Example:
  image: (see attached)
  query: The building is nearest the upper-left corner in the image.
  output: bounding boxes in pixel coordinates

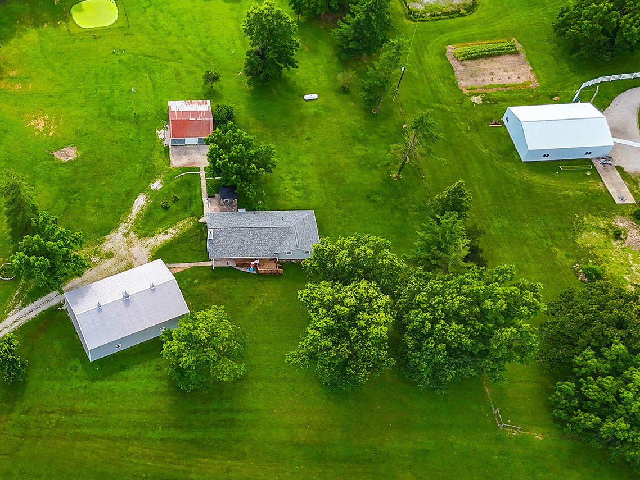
[169,100,214,146]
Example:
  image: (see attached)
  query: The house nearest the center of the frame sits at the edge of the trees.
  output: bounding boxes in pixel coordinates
[206,211,321,272]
